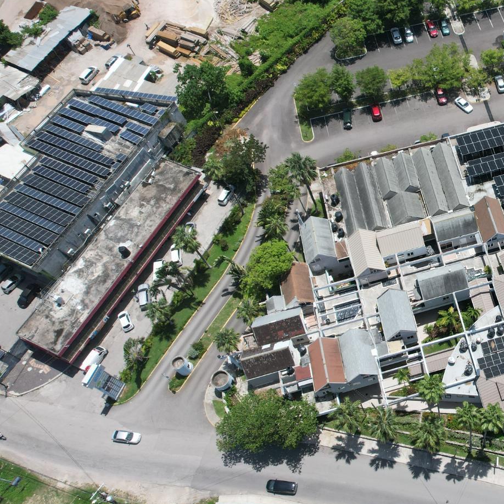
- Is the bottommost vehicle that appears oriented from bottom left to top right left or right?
left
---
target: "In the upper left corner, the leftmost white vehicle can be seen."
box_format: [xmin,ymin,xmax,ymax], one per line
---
[76,63,102,85]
